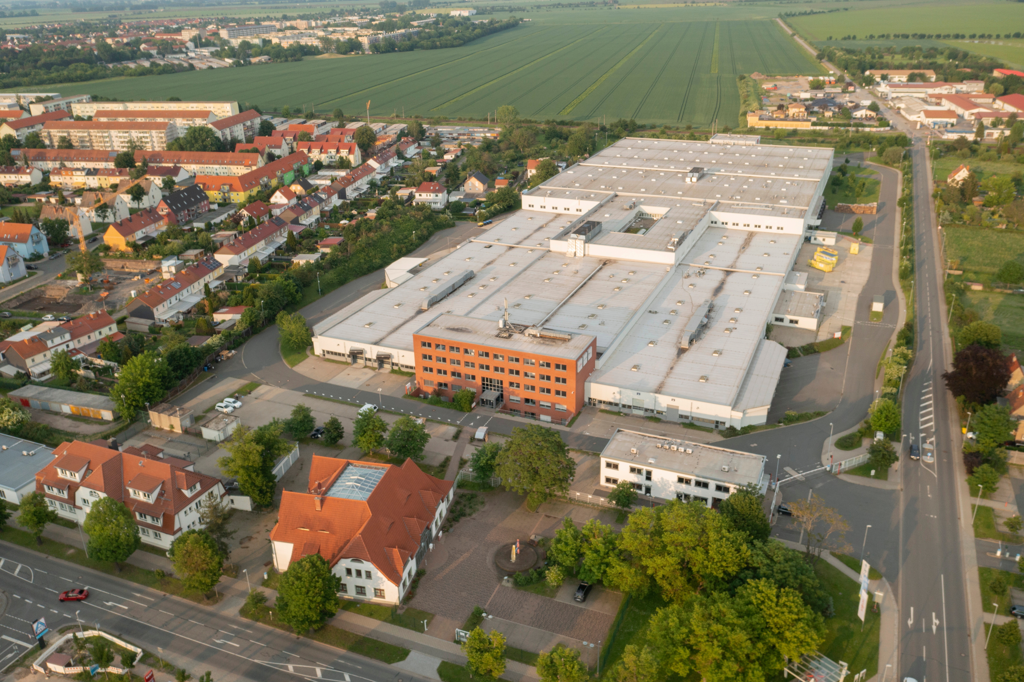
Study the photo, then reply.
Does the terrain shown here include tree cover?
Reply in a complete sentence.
Yes, there is tree cover in the image.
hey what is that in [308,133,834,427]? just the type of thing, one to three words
building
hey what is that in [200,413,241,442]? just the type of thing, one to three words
house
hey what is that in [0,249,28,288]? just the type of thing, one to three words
house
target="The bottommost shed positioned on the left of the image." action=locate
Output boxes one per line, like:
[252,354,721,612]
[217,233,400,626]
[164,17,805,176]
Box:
[42,644,75,673]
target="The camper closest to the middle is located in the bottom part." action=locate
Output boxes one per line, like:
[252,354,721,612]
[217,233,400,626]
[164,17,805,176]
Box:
[475,424,489,440]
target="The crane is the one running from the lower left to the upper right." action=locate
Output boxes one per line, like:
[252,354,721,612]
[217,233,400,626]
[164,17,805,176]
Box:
[61,173,151,250]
